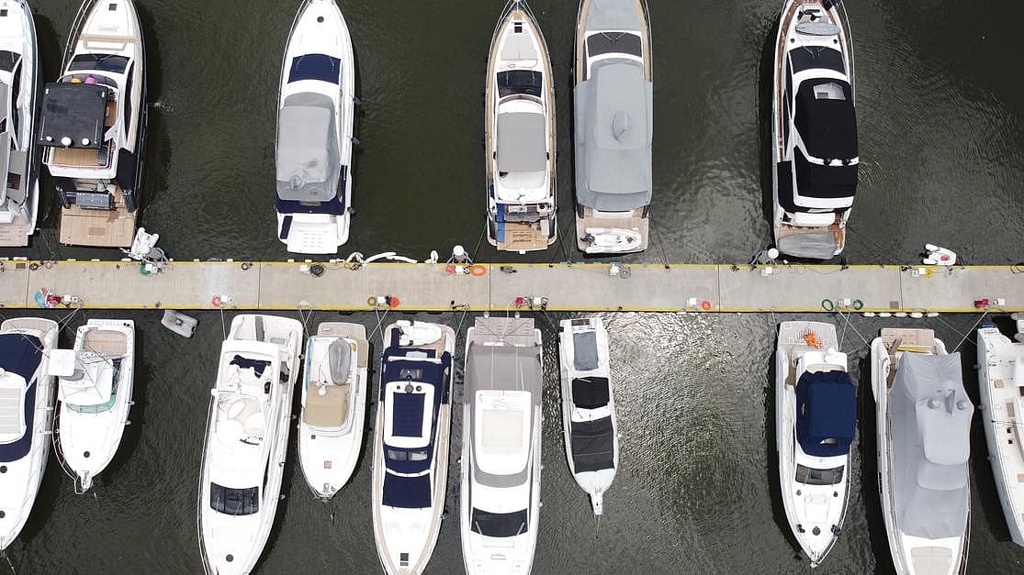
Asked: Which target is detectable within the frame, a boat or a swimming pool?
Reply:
boat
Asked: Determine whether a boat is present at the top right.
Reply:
Yes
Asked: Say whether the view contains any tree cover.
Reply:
No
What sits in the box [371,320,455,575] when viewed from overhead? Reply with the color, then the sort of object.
white boat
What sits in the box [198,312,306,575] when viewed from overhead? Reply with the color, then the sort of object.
white boat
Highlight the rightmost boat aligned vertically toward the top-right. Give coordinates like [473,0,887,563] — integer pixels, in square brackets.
[767,0,861,252]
